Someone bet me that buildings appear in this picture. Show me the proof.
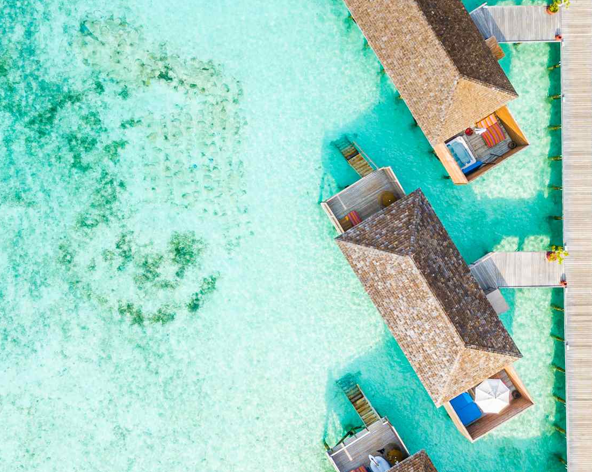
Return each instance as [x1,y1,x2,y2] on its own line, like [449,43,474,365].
[331,0,528,183]
[320,367,438,472]
[315,133,527,439]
